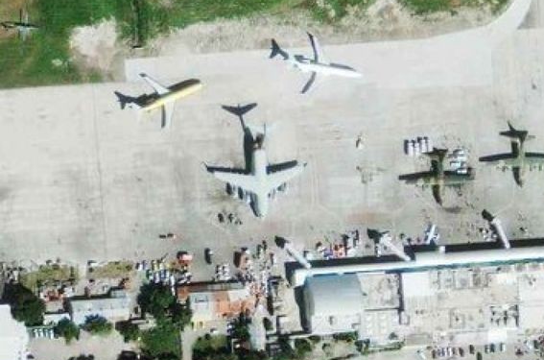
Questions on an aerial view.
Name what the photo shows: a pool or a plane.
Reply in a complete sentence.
There is a plane in the scene.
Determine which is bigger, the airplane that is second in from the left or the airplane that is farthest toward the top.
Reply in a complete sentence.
The larger object is the airplane that is second in from the left, with the airplane that is farthest toward the top being the smaller of the pair.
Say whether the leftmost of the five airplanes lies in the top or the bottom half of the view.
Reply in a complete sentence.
The top half of the photo is where the leftmost of the five airplanes is.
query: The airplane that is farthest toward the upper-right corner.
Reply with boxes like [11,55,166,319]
[488,133,544,186]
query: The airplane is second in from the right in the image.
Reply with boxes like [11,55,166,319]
[406,152,474,204]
